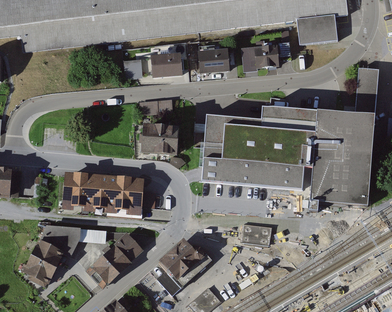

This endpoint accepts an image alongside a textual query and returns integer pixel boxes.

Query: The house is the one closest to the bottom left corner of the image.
[26,240,64,288]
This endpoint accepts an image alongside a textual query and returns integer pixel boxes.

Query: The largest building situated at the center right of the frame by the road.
[200,106,376,214]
